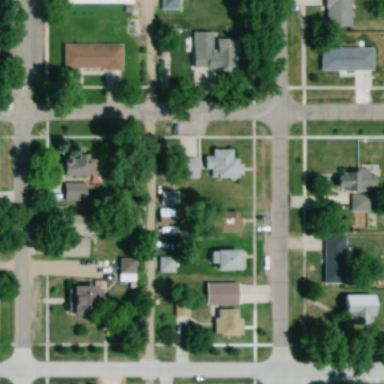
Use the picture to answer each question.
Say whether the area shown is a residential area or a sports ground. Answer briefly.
residential area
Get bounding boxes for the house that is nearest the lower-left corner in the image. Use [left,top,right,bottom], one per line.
[77,285,106,316]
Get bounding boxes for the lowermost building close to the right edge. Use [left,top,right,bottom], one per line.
[347,294,380,324]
